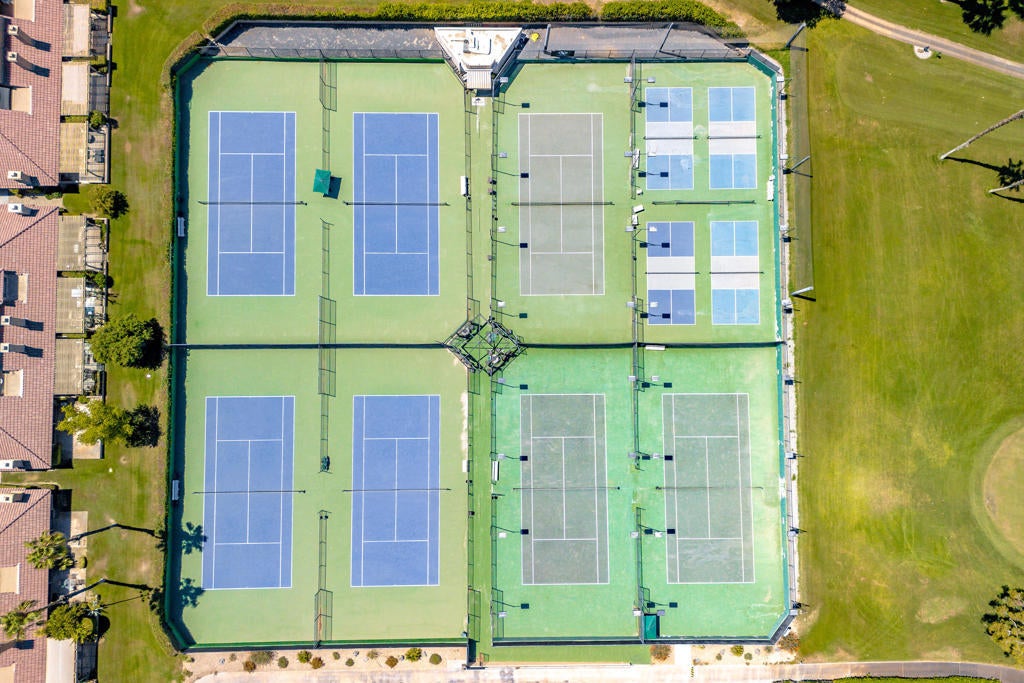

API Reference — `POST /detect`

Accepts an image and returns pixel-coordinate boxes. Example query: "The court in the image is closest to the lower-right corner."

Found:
[662,394,755,584]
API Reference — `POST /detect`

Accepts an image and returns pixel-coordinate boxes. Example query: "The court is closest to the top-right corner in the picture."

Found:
[708,87,757,189]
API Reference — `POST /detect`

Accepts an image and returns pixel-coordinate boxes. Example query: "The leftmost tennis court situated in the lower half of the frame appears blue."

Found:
[202,396,295,590]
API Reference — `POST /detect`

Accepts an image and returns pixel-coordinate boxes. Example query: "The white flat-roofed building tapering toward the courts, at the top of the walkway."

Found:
[434,27,522,79]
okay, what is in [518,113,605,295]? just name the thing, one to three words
tennis court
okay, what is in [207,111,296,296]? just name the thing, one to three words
tennis court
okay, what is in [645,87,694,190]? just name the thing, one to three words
sports court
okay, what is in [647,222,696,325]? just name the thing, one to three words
sports court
